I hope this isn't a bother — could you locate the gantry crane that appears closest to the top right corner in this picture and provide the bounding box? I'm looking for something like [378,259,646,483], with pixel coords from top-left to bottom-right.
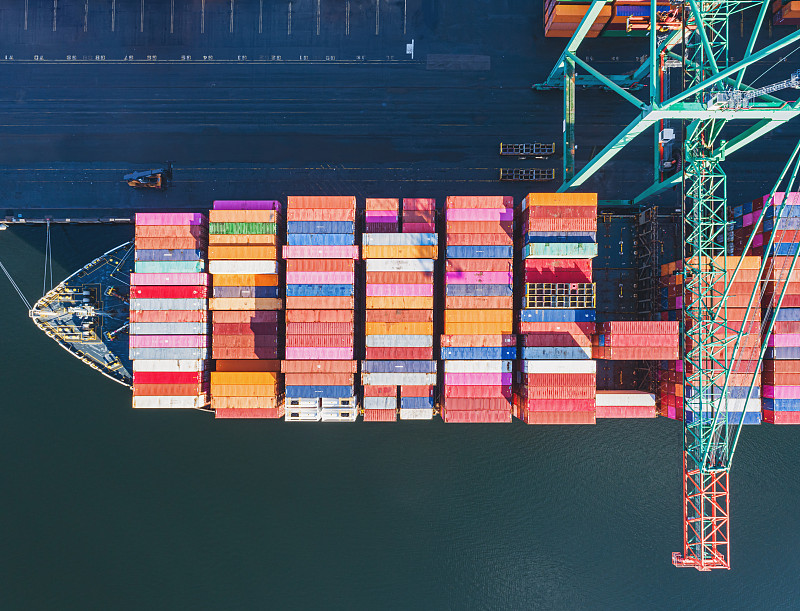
[525,0,800,572]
